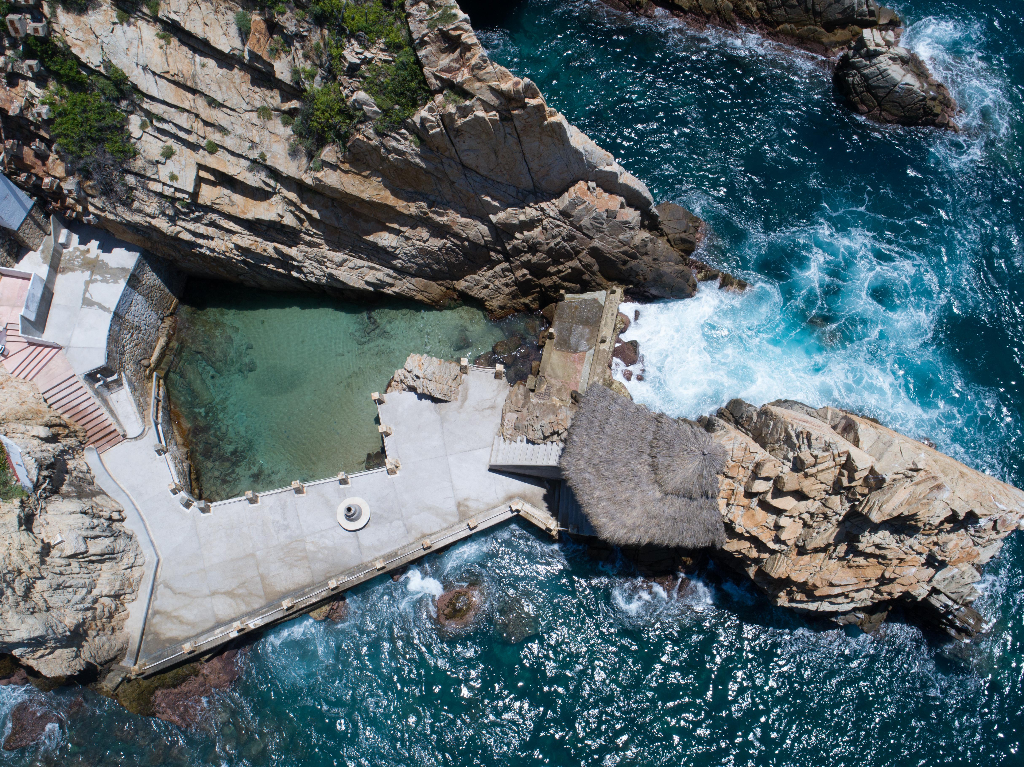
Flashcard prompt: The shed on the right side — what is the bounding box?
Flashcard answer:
[559,384,727,548]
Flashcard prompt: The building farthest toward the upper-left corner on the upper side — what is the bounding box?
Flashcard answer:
[0,174,84,277]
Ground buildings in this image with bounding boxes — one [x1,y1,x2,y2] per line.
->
[559,384,727,548]
[0,174,84,277]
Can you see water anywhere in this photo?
Yes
